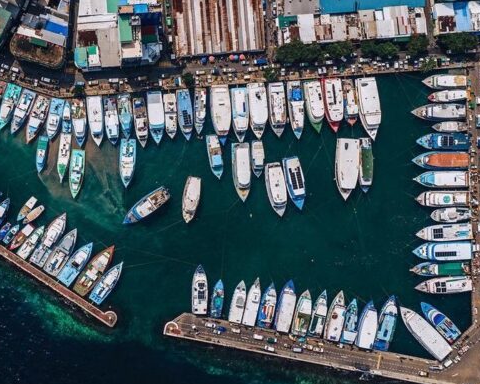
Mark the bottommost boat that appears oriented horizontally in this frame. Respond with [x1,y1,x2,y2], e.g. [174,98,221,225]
[414,278,474,296]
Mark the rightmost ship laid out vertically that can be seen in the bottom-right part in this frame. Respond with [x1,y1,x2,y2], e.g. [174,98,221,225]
[375,295,398,352]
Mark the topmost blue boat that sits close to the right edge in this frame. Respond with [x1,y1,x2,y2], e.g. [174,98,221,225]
[416,133,472,151]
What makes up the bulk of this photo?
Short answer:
water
